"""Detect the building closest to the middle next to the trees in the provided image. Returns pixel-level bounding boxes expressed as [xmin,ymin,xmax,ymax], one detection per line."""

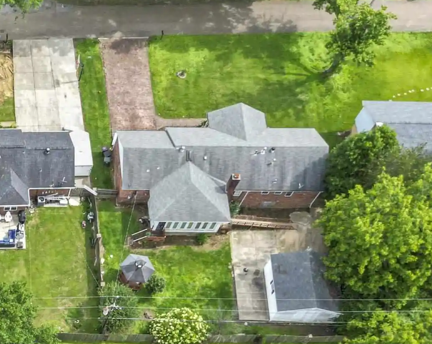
[112,93,332,244]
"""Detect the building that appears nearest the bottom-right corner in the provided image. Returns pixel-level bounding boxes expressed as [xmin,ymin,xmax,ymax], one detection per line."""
[259,242,340,322]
